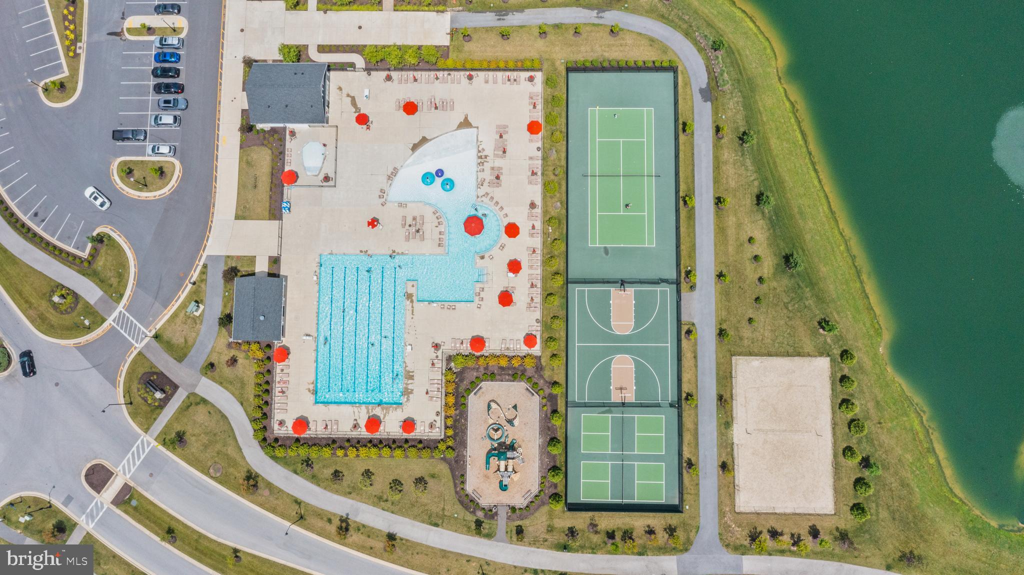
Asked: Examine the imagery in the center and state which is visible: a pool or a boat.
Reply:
pool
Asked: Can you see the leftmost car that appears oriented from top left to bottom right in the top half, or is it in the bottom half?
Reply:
top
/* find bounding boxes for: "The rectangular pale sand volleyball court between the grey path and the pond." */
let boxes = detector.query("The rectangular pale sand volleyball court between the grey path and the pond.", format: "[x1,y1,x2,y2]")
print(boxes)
[732,356,835,514]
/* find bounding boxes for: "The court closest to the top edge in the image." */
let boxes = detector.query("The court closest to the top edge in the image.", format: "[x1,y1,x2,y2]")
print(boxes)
[568,71,677,282]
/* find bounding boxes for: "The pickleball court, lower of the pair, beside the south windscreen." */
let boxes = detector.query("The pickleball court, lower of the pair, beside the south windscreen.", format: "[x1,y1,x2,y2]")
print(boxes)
[567,458,679,507]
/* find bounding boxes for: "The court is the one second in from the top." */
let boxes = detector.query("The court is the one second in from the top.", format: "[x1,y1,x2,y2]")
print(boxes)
[567,284,678,407]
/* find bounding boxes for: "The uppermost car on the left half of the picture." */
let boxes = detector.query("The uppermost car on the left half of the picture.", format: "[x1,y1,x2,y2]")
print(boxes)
[154,2,182,16]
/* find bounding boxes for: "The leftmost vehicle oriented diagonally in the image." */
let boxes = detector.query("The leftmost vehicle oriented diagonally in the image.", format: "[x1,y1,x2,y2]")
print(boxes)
[85,186,112,211]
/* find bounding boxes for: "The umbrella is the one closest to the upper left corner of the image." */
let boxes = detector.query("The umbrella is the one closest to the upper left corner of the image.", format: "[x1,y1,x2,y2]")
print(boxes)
[282,170,297,185]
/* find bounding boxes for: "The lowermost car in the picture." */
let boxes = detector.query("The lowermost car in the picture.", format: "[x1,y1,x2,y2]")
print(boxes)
[19,349,37,378]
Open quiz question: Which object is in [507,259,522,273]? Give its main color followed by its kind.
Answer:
red umbrella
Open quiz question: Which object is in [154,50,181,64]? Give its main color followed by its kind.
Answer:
blue car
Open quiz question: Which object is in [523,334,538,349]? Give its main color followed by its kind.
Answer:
red umbrella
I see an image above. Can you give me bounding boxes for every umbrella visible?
[463,216,484,236]
[507,259,522,273]
[365,417,381,434]
[498,291,514,306]
[527,121,542,135]
[274,348,289,362]
[367,218,378,229]
[356,113,369,126]
[403,101,417,116]
[504,223,520,238]
[282,170,297,185]
[523,334,538,349]
[401,420,416,434]
[469,336,486,353]
[292,418,308,434]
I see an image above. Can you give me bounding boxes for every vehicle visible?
[154,35,184,50]
[148,144,176,157]
[154,2,182,16]
[19,349,37,378]
[158,97,189,111]
[154,50,181,64]
[154,81,185,95]
[85,186,112,211]
[111,128,149,142]
[152,65,181,79]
